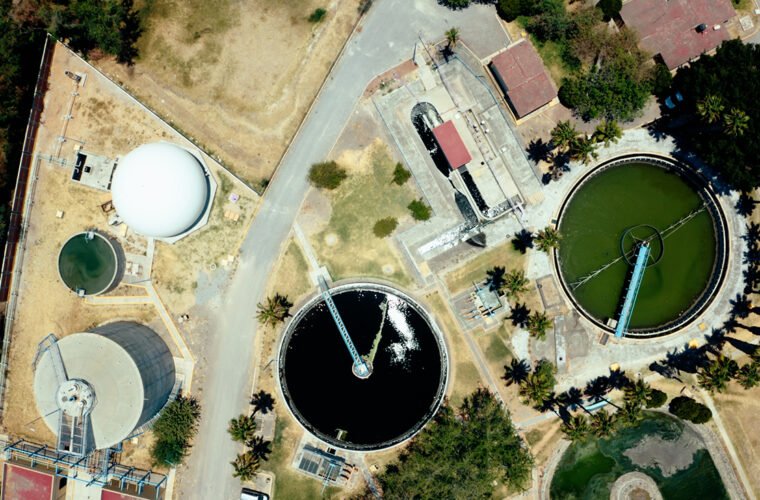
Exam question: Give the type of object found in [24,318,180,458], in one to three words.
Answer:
storage tank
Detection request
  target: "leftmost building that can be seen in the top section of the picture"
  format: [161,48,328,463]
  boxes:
[478,39,560,128]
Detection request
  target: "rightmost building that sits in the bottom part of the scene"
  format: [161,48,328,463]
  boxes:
[451,279,512,330]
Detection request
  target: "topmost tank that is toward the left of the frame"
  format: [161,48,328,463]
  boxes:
[57,231,128,295]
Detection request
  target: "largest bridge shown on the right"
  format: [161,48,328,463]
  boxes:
[613,237,651,340]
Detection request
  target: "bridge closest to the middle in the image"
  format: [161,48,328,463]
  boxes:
[315,282,364,373]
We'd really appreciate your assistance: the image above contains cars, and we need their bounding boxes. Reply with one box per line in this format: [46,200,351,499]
[662,86,691,112]
[239,489,272,500]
